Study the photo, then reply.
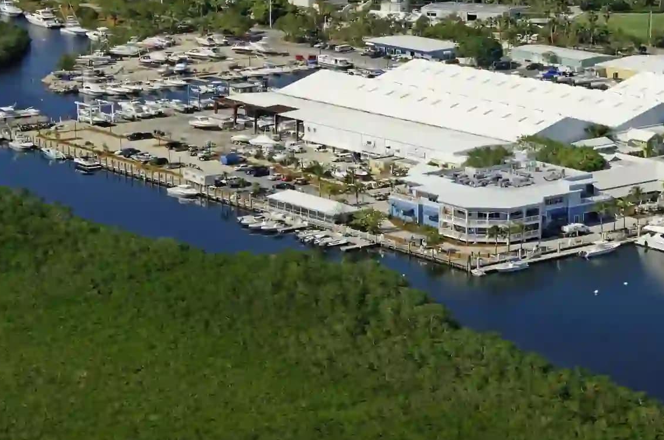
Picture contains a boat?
Yes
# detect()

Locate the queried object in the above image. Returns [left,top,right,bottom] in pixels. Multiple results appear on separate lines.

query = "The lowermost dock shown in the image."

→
[473,252,599,280]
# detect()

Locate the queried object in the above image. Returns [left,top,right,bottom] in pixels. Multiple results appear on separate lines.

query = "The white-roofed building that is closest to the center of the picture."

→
[256,187,363,228]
